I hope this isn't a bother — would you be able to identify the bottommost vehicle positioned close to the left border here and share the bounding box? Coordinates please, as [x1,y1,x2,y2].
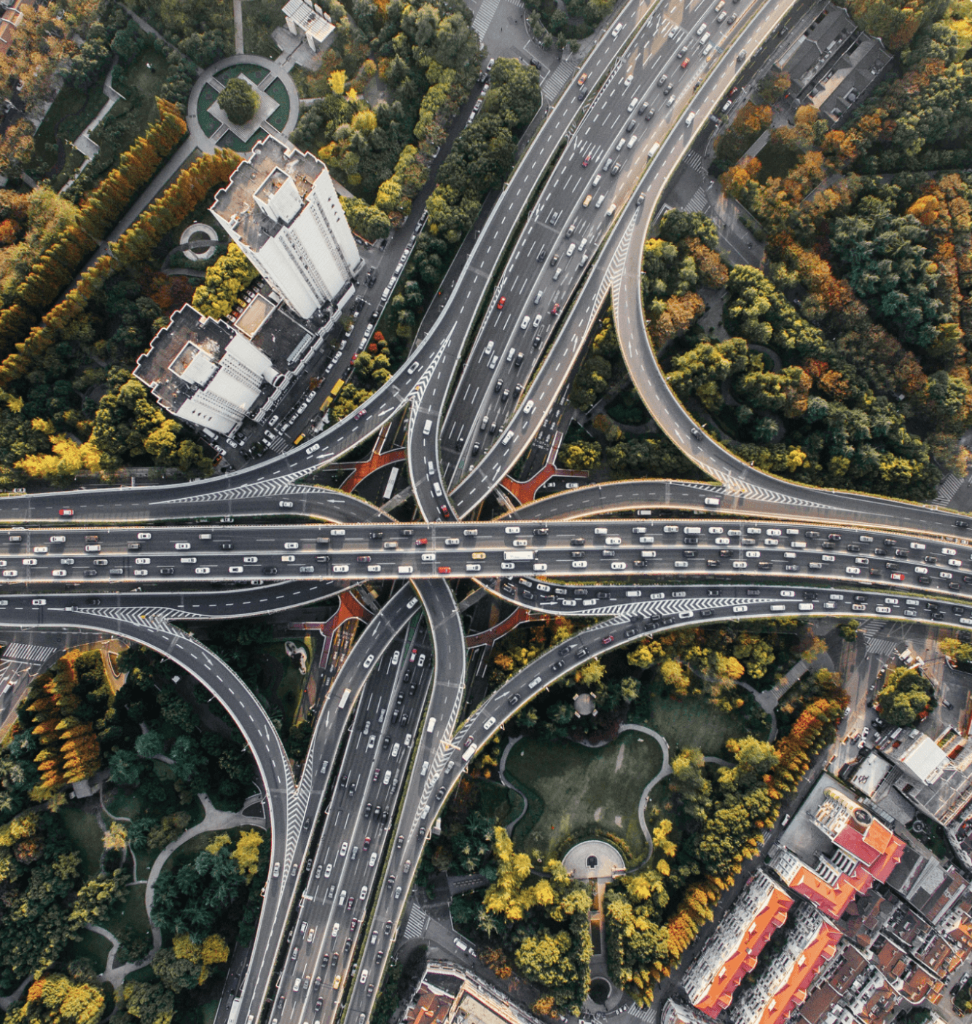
[3,679,17,693]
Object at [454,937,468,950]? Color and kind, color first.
white vehicle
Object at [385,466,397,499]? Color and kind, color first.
white vehicle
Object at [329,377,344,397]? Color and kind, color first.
yellow vehicle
